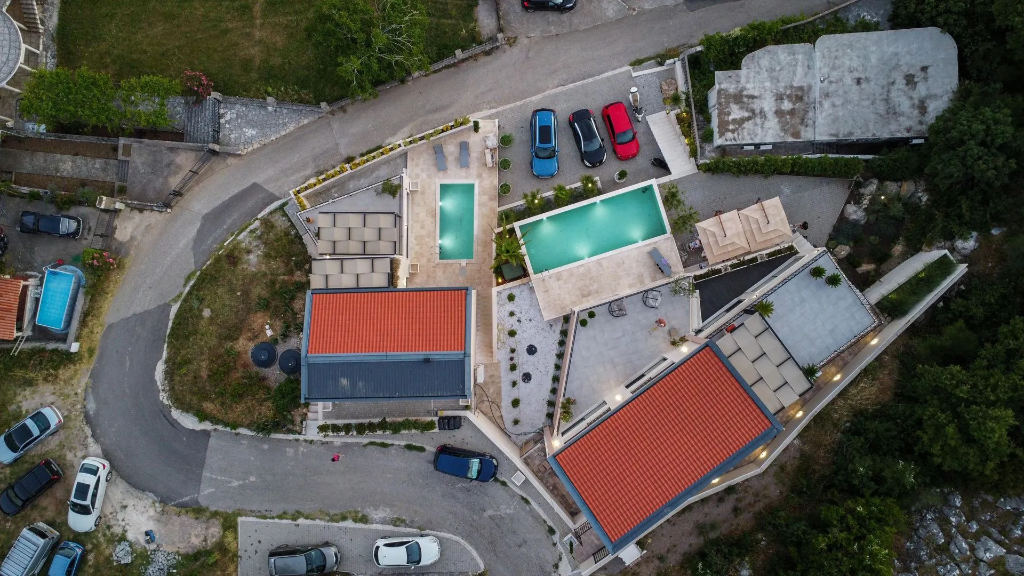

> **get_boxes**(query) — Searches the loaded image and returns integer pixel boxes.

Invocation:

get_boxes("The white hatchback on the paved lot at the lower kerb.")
[373,532,442,568]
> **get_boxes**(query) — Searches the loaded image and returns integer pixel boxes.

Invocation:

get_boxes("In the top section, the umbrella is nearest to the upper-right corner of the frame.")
[735,197,793,252]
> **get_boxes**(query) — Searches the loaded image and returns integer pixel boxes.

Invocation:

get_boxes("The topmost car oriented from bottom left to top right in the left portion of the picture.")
[0,405,68,459]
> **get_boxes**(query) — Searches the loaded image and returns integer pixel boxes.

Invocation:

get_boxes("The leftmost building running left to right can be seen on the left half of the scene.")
[97,195,142,214]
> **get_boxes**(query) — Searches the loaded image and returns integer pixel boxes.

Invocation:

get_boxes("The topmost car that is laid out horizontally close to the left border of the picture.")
[18,208,90,241]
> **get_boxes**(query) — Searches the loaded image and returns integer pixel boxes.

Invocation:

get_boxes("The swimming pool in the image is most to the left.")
[35,265,88,330]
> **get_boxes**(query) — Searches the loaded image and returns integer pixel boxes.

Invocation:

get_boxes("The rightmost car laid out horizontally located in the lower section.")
[433,446,499,485]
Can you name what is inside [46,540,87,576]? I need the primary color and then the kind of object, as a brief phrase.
blue car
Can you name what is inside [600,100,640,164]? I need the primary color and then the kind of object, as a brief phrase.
red car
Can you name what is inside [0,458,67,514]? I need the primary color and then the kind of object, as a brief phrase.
black car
